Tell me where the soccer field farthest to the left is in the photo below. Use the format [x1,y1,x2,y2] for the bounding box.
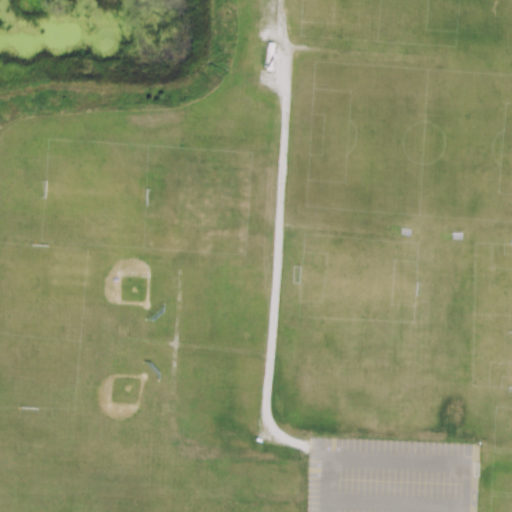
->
[0,243,88,411]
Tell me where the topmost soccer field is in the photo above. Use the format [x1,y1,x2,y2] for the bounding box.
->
[301,0,460,48]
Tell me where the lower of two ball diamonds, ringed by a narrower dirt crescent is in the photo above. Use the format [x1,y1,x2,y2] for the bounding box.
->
[98,373,148,420]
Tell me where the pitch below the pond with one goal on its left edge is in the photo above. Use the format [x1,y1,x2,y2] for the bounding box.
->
[42,138,148,250]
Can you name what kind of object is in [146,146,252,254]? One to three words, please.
soccer field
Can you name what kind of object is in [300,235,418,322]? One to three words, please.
soccer field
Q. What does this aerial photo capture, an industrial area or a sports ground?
sports ground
